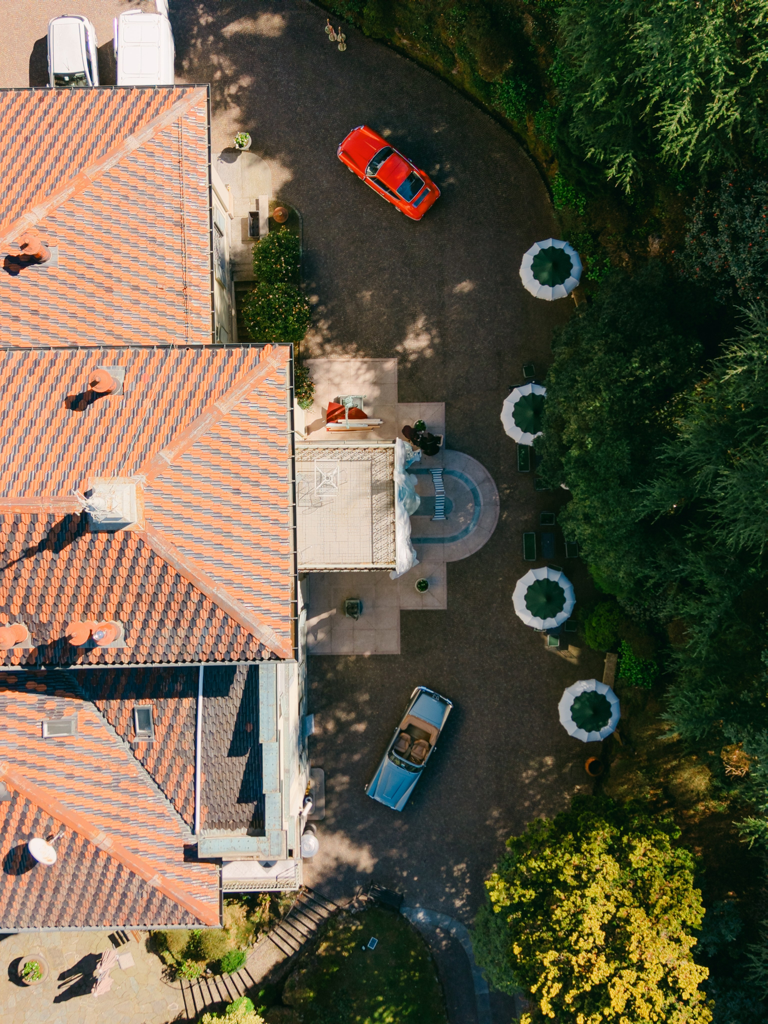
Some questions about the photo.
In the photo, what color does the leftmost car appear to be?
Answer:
white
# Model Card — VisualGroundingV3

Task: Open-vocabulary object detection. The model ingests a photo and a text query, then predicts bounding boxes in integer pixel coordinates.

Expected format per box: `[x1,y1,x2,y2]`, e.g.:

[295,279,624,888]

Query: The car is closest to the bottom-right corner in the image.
[368,691,454,815]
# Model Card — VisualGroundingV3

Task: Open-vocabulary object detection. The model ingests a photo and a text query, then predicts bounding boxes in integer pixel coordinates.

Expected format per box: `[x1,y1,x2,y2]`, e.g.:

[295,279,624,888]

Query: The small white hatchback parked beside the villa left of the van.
[50,21,104,83]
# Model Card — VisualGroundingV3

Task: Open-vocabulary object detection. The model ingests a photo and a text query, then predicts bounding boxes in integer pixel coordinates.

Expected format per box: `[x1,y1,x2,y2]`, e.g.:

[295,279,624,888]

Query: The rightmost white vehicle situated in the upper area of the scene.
[117,0,185,82]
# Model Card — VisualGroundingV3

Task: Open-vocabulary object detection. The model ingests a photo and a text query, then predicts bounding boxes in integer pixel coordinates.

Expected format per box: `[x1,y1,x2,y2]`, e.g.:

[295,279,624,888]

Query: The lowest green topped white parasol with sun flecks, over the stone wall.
[556,678,616,737]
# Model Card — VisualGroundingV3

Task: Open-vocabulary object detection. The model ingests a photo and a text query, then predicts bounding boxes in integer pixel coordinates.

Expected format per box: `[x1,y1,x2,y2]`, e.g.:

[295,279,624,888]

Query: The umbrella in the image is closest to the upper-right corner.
[519,243,579,303]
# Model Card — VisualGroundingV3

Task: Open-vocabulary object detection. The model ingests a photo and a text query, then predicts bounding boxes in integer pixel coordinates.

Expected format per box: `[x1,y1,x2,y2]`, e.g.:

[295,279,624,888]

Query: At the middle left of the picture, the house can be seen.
[0,79,399,934]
